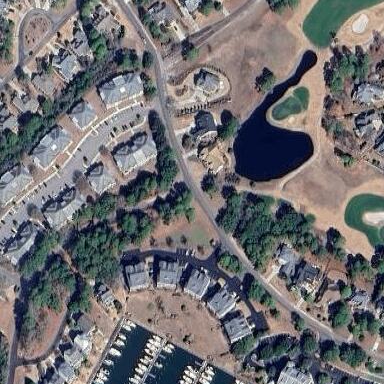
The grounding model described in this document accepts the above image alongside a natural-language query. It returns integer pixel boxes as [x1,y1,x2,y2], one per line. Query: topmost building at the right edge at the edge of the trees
[353,82,383,104]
